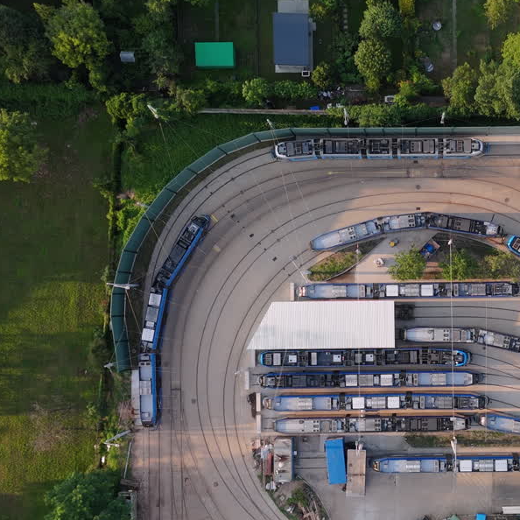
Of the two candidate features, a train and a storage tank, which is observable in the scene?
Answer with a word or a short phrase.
train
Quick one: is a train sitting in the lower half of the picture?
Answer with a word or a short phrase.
Yes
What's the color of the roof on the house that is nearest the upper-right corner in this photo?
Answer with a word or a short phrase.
blue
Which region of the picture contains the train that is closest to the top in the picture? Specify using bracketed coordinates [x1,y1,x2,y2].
[275,138,485,160]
